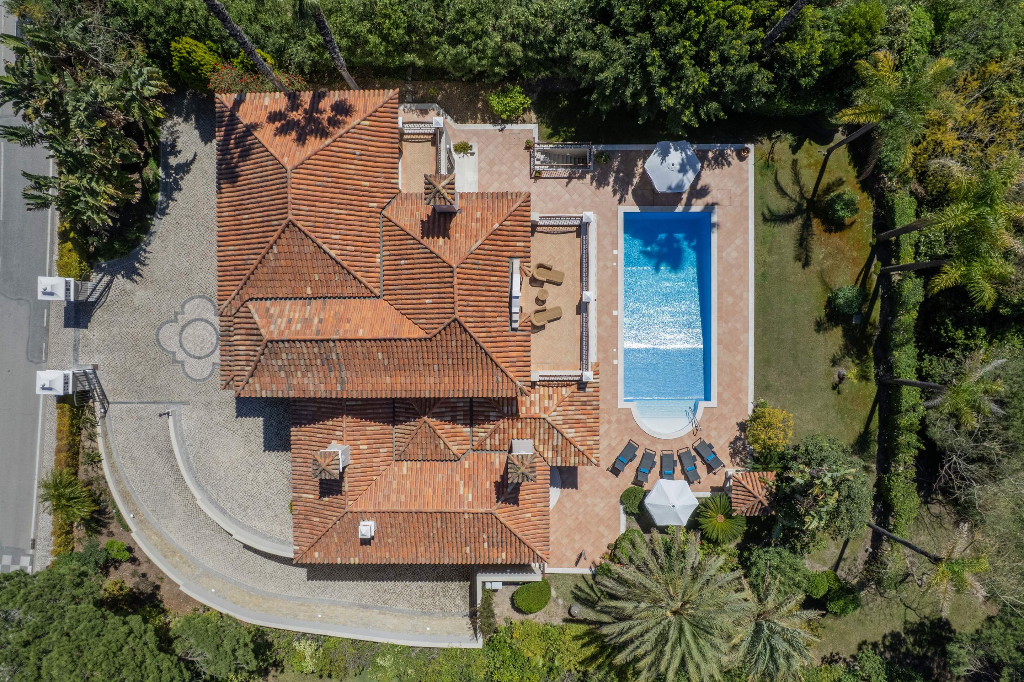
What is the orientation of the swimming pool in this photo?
up and down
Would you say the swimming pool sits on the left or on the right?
right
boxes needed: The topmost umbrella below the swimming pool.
[642,477,698,527]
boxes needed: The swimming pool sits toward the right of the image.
[618,206,717,439]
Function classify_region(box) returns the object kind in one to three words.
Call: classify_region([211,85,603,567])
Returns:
house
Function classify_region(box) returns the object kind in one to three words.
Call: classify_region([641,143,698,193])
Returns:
umbrella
